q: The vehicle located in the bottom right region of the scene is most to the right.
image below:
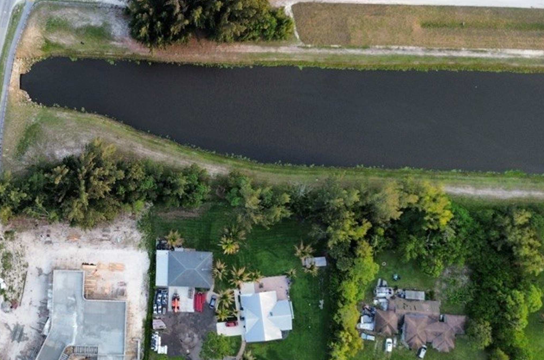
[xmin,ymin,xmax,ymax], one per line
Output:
[415,347,427,360]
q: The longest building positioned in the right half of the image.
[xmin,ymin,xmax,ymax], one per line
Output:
[372,298,466,352]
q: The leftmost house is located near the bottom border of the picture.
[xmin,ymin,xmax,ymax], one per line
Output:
[36,270,126,360]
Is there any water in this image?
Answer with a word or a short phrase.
Yes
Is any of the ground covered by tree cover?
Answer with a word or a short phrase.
Yes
